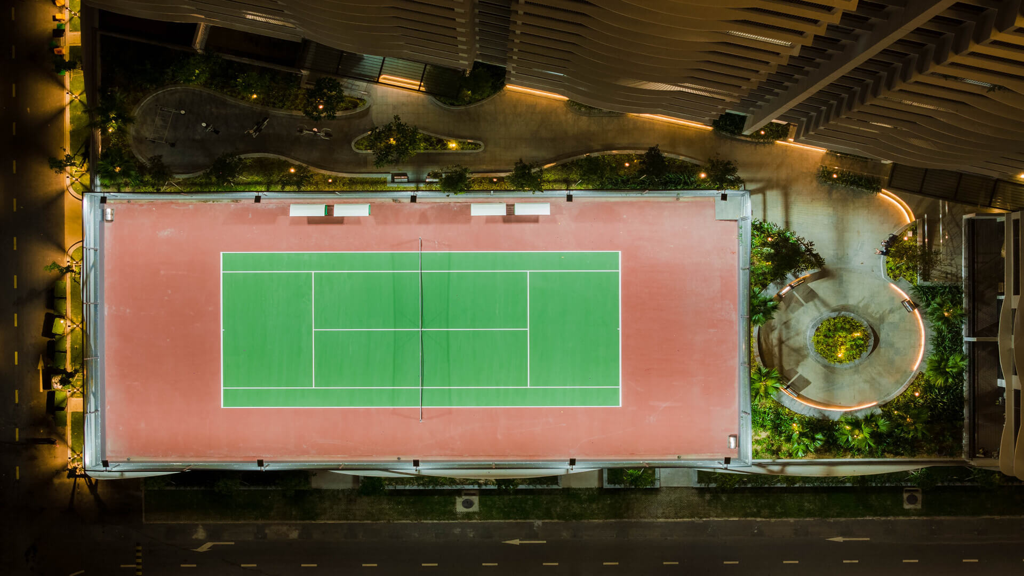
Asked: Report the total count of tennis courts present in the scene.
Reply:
1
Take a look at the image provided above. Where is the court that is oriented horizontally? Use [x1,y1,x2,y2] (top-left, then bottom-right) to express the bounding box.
[100,196,743,464]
